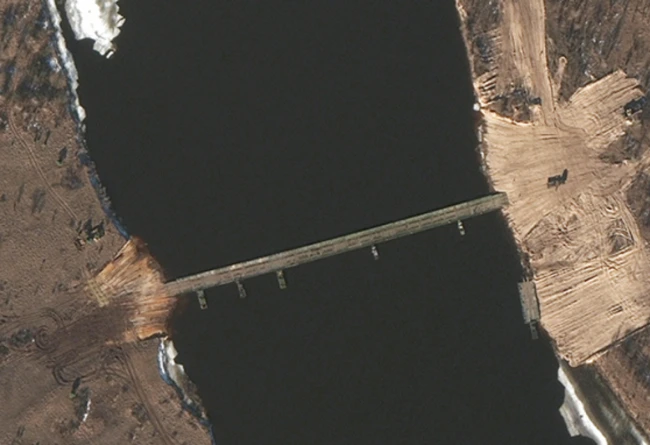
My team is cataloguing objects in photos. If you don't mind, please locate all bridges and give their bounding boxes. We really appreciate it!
[166,194,507,296]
